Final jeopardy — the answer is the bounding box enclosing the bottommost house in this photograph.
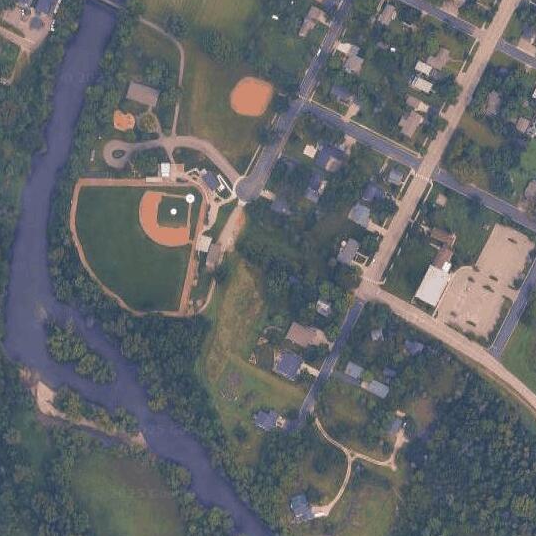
[290,495,312,522]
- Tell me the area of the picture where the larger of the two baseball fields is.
left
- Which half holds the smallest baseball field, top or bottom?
top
